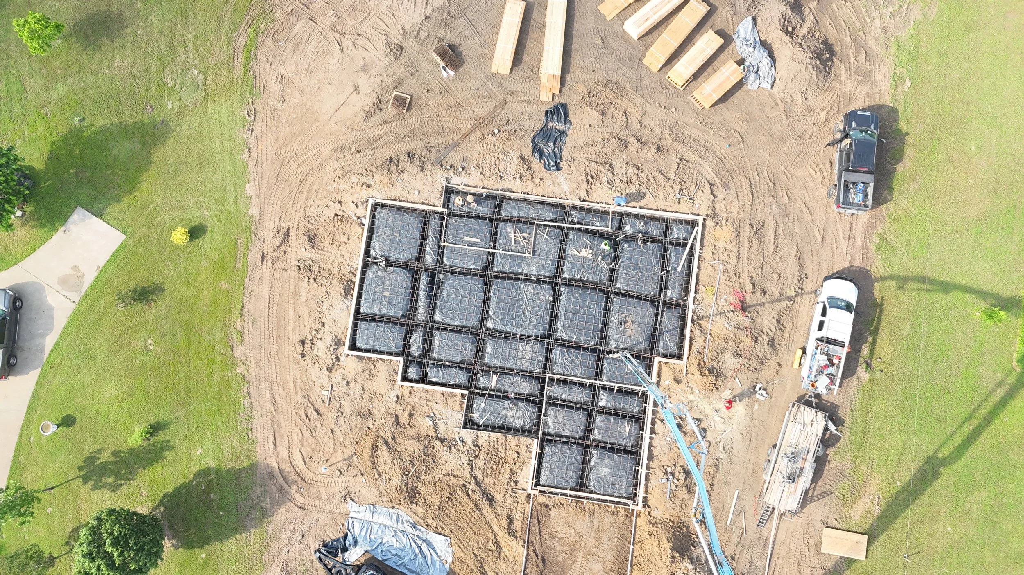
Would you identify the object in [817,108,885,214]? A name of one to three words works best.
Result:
truck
